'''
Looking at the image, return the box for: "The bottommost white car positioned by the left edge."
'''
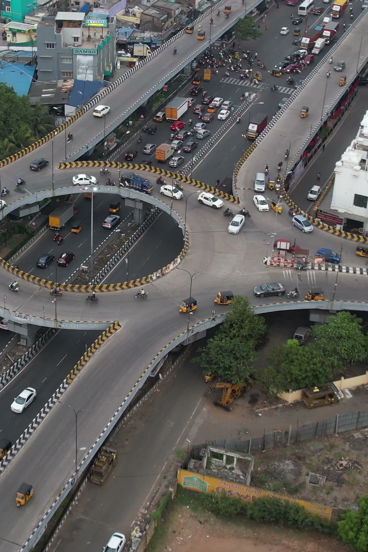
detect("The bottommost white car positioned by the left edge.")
[10,389,38,415]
